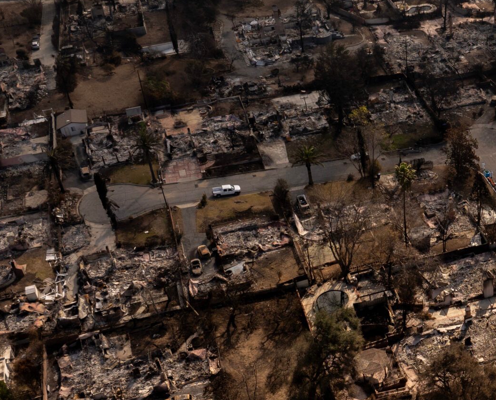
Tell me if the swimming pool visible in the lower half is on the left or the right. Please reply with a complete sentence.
The swimming pool visible in the lower half is on the right side of the image.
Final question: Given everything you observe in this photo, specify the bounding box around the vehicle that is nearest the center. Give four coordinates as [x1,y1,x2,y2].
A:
[211,186,241,199]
